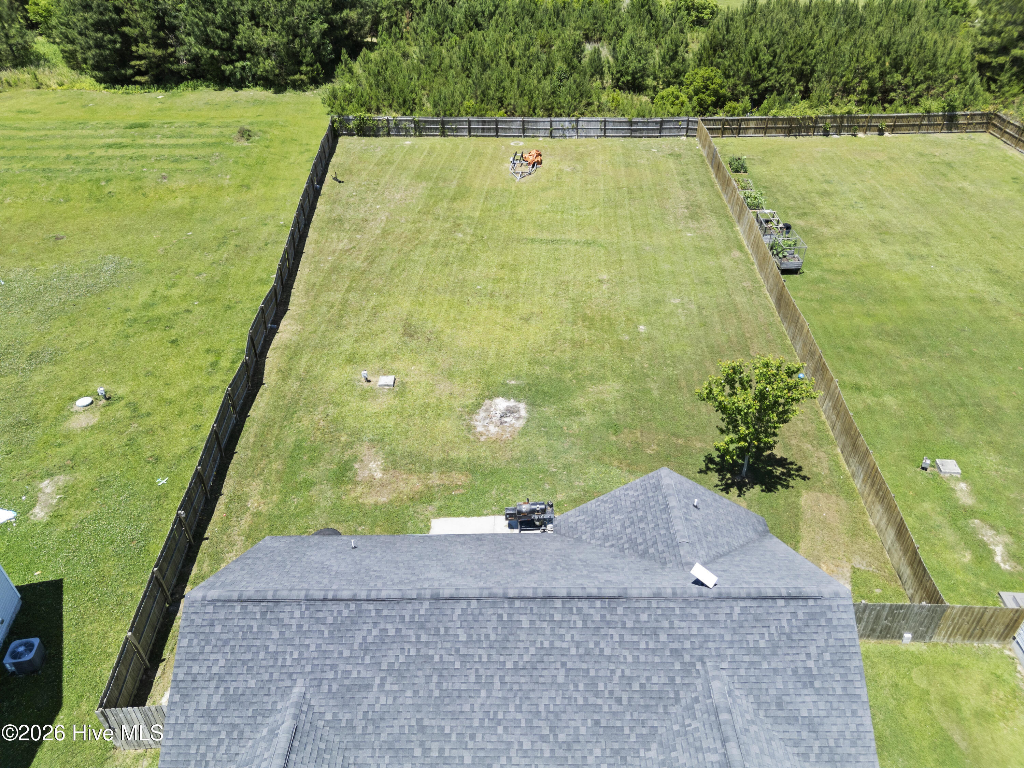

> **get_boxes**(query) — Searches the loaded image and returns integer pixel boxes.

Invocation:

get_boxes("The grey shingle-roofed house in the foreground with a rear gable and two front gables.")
[159,466,884,768]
